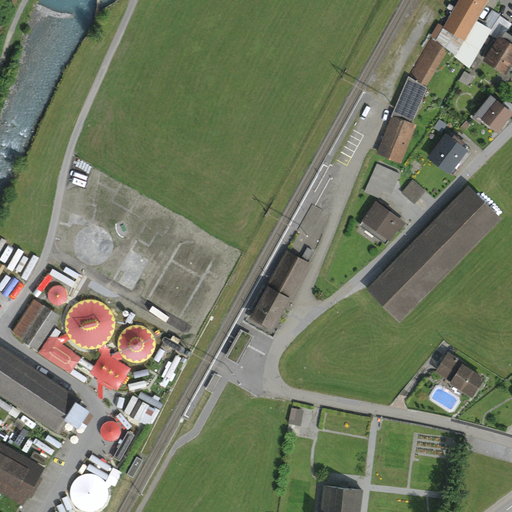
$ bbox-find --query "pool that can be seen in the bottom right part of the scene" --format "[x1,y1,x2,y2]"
[427,384,460,412]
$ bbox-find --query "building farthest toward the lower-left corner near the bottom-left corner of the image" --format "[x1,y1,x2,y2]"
[0,442,44,506]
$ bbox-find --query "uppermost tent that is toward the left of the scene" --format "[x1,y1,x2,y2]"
[46,282,72,309]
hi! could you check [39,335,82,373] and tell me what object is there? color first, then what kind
red tent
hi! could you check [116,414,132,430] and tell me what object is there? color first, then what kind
white vehicle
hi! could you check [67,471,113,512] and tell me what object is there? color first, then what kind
white tent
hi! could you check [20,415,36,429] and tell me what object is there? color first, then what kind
white camper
